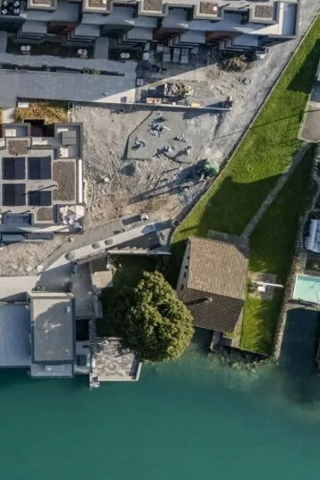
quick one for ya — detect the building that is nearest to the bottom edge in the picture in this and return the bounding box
[27,288,75,376]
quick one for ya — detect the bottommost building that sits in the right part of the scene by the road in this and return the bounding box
[178,237,248,332]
